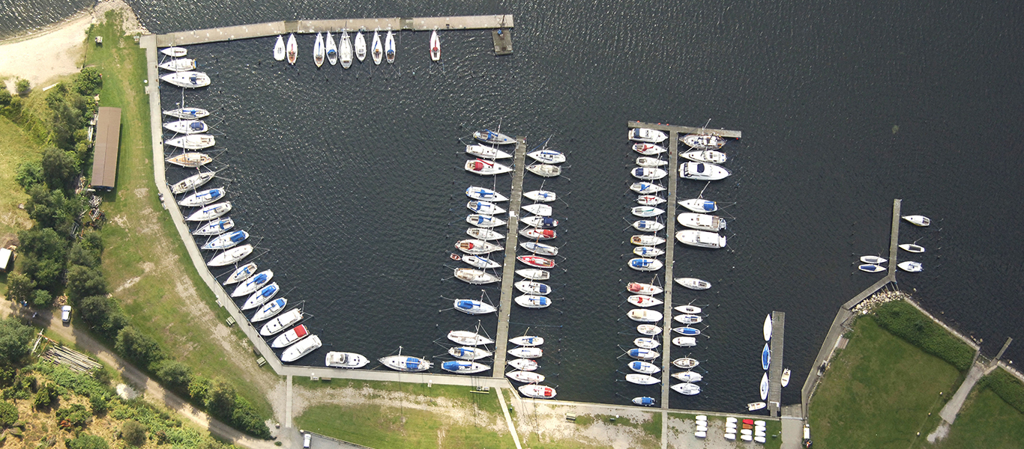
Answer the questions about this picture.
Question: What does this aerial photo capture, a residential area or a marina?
marina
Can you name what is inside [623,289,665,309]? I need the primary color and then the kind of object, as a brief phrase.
white boat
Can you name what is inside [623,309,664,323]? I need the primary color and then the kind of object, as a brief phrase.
white boat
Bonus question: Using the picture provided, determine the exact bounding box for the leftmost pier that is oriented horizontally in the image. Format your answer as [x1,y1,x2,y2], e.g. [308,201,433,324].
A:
[175,20,285,46]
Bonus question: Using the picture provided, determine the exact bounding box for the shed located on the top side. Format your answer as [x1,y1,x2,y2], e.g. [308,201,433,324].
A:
[91,107,122,189]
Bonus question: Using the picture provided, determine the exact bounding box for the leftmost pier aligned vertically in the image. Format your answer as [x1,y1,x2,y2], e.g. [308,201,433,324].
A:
[493,136,526,377]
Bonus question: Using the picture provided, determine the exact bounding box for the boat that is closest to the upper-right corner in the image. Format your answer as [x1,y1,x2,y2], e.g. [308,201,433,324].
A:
[900,213,939,229]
